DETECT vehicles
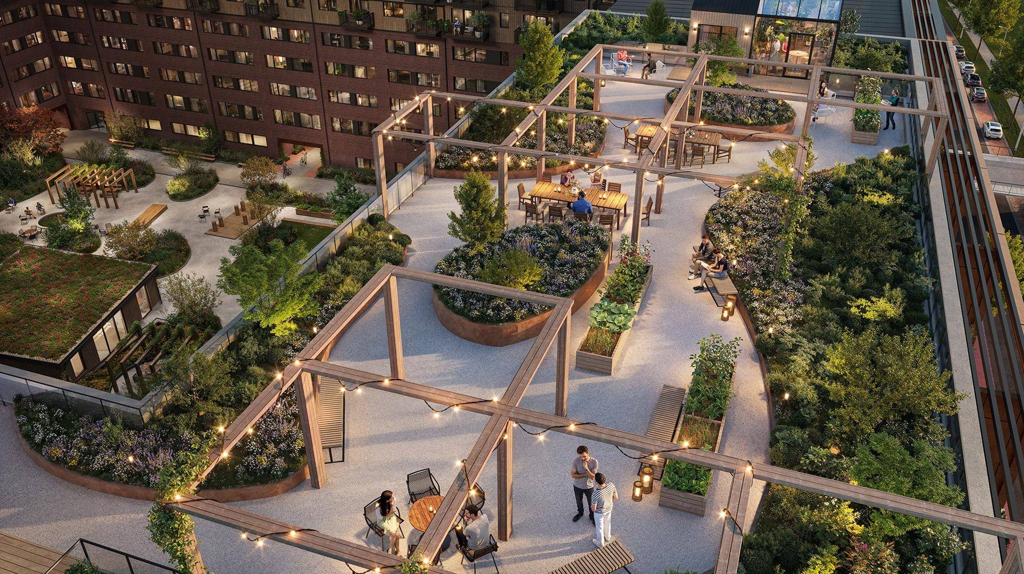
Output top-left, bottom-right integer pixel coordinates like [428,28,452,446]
[961,70,982,86]
[966,85,988,103]
[953,44,971,59]
[958,58,976,73]
[977,119,1002,140]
